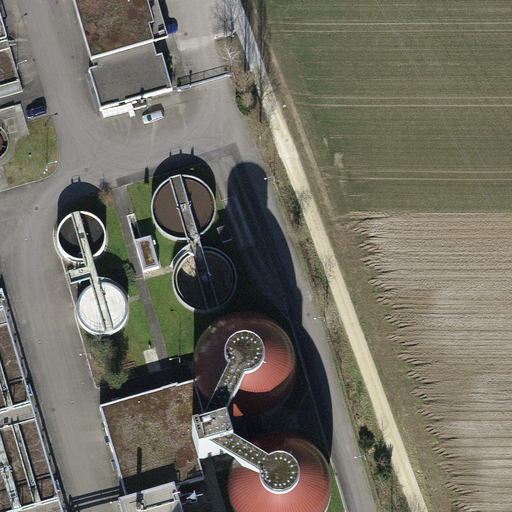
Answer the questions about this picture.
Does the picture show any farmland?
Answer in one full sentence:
Yes, some farmland is visible.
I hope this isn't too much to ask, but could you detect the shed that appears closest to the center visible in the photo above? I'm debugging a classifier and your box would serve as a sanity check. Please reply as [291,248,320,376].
[136,235,159,272]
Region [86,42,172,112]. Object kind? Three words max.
building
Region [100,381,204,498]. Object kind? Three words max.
building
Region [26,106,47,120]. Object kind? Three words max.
vehicle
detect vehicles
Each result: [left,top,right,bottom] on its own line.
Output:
[26,106,47,120]
[142,110,165,124]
